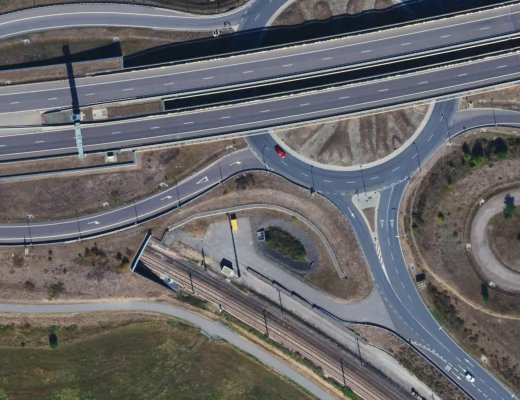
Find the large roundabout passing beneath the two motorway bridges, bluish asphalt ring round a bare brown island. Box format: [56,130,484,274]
[230,0,461,194]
